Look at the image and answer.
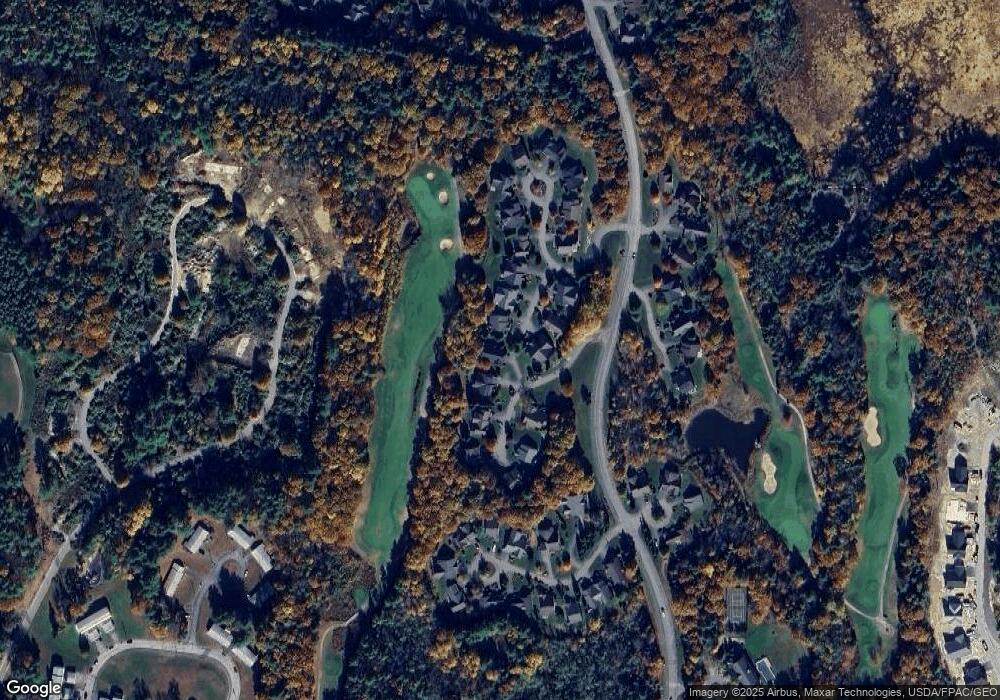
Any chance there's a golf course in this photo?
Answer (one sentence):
Yes, you can see a golf course in this photo.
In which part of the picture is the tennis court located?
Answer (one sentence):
You can find the tennis court in the bottom right area of the picture.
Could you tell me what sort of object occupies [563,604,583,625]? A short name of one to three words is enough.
house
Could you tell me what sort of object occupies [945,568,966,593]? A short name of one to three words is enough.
house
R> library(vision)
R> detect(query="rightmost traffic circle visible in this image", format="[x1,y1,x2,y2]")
[522,171,555,203]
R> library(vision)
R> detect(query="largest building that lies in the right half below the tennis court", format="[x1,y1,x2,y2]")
[727,655,766,697]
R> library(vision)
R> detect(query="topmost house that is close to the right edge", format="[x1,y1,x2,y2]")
[950,472,969,495]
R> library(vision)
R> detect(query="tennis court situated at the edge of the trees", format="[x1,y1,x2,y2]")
[727,588,747,633]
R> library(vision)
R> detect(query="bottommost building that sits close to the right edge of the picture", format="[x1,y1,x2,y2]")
[965,672,988,698]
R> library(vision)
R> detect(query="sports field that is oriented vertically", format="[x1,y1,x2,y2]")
[0,334,35,434]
